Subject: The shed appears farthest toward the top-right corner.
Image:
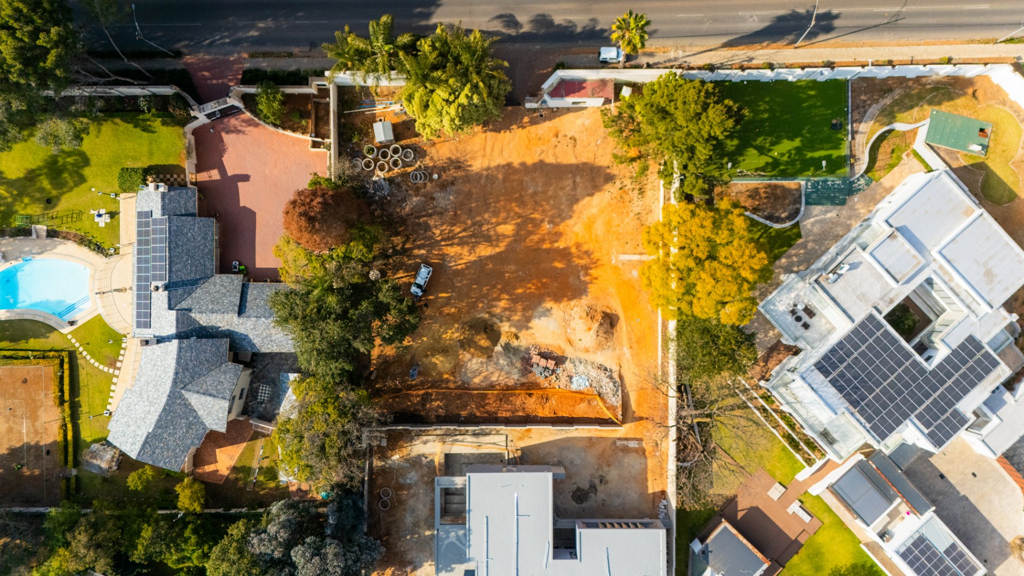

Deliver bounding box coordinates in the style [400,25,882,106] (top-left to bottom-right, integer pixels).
[923,110,992,157]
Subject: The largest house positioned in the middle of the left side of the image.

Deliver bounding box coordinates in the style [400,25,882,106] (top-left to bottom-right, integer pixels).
[107,183,301,472]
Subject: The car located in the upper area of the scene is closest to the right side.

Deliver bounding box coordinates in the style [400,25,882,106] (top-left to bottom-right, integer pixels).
[597,46,625,62]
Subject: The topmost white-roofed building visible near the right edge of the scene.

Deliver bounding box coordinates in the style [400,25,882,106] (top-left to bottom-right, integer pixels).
[752,170,1024,461]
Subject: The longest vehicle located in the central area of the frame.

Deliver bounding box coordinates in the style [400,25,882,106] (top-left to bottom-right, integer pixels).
[410,262,434,298]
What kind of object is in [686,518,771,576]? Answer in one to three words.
building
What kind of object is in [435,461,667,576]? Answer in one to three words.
house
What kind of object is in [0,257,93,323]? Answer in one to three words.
swimming pool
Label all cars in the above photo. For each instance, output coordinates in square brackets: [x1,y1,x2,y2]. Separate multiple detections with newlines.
[410,262,434,298]
[597,46,625,62]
